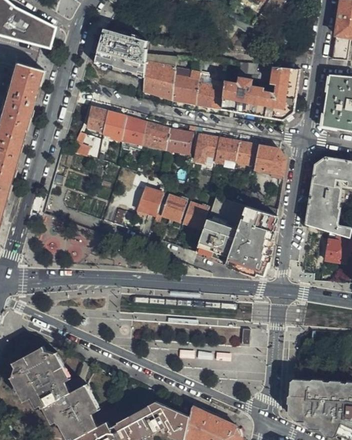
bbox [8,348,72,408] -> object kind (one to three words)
building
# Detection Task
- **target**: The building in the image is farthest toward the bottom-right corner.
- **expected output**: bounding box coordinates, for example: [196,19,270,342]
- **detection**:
[285,382,352,440]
